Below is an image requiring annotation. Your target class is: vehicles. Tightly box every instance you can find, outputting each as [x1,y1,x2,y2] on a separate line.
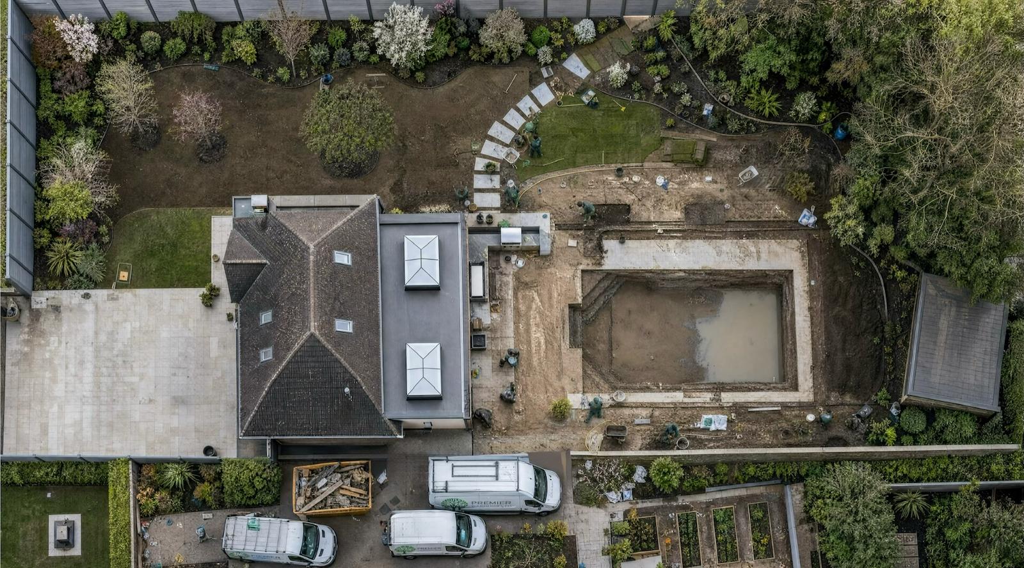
[387,506,490,562]
[223,515,339,568]
[430,449,561,516]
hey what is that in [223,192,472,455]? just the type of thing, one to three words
house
